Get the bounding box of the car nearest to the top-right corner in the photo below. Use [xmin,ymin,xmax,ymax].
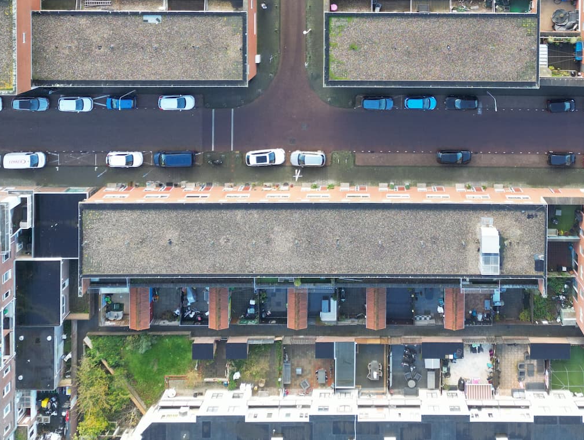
[545,98,575,115]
